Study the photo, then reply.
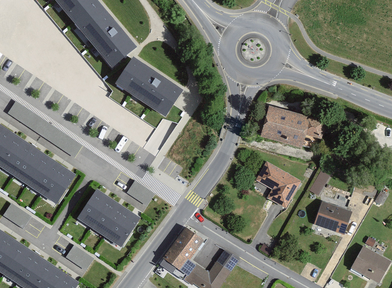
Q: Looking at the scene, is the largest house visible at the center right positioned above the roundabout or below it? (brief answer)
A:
below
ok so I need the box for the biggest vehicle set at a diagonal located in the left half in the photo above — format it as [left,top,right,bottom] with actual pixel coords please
[114,136,128,152]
